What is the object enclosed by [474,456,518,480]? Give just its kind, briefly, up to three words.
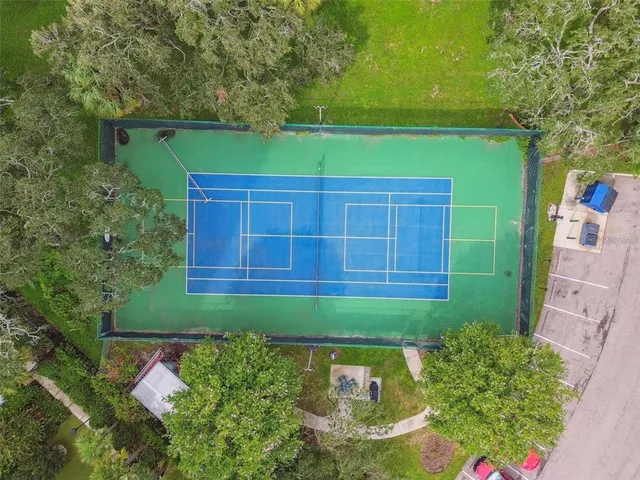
car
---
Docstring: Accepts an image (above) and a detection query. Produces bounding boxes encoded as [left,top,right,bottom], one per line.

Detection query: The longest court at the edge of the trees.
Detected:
[114,128,527,341]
